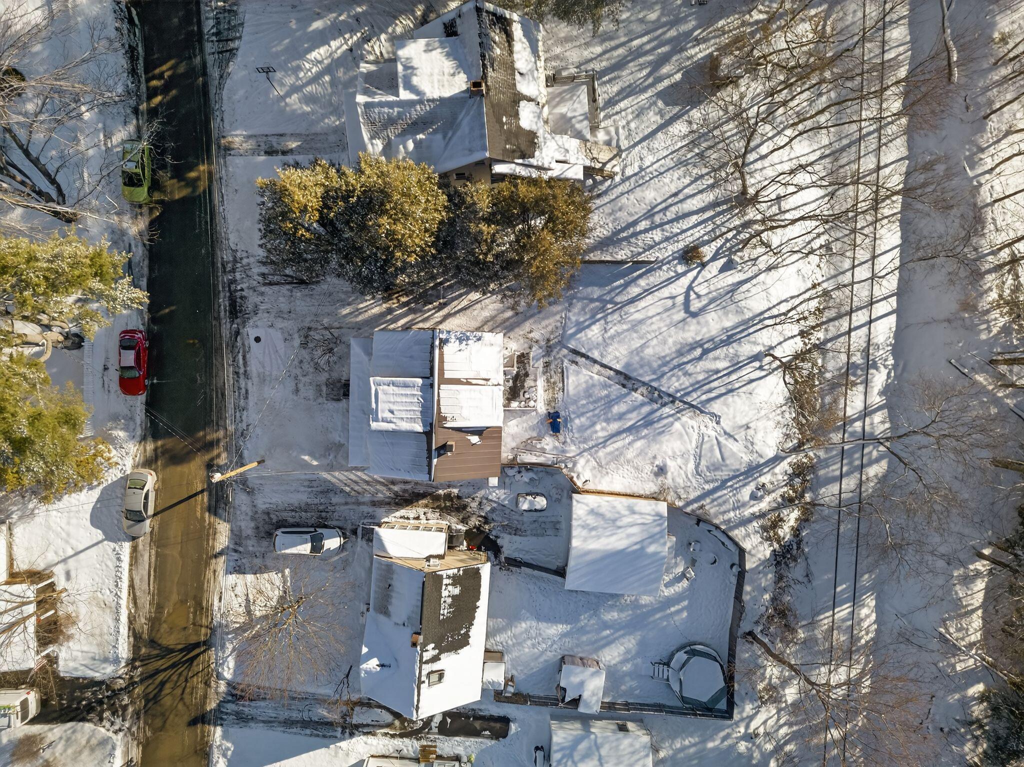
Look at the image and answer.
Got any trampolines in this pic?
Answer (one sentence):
No, I can't see a single trampoline in this photo.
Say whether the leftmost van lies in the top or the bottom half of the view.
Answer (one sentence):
You can find the leftmost van in the bottom half.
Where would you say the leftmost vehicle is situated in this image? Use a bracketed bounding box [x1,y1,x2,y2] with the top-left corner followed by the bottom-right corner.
[0,691,39,727]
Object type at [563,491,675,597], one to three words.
building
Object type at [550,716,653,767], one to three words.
shed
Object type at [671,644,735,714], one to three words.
swimming pool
